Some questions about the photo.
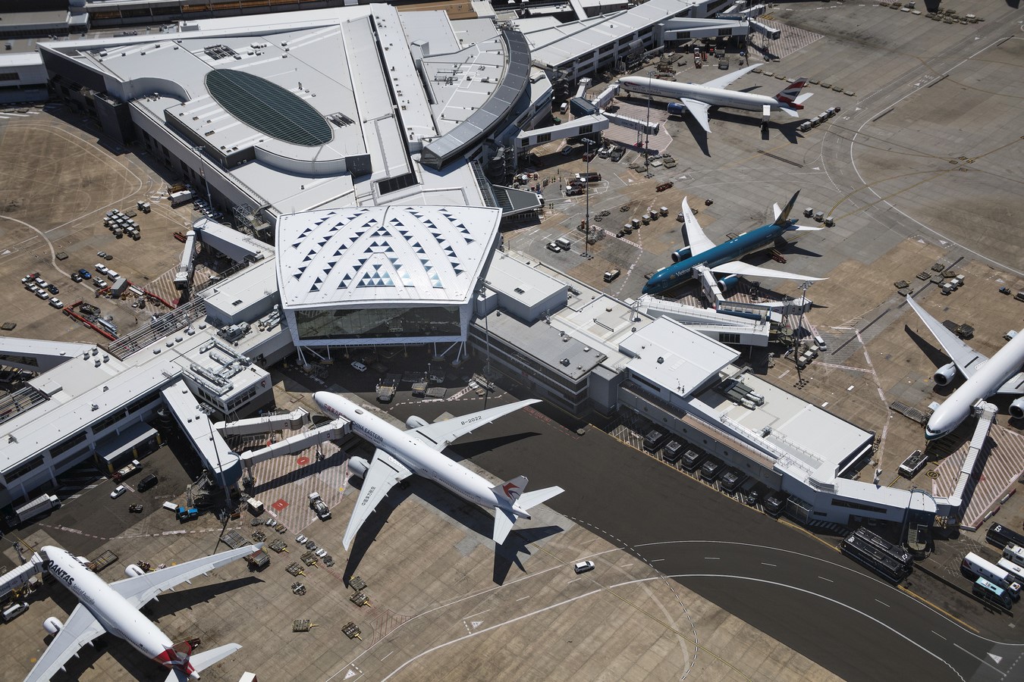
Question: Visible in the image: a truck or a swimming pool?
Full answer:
The one in the frame is a truck.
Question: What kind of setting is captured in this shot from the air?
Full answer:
The picture captures an airport.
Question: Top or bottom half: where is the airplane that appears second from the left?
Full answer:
The bottom half of the photo is where the airplane that appears second from the left is.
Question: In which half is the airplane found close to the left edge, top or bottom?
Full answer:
You can find the airplane found close to the left edge in the bottom half.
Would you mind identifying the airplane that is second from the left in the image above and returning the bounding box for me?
[312,391,564,551]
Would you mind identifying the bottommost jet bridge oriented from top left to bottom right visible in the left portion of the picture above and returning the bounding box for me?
[161,379,242,508]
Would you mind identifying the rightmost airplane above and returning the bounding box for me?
[908,283,1024,440]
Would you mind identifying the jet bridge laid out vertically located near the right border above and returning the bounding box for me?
[950,402,1003,535]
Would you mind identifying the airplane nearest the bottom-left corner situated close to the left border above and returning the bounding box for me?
[25,540,265,682]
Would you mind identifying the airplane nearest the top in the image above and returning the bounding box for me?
[616,63,813,131]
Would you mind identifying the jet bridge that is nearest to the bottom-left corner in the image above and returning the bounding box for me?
[0,550,53,605]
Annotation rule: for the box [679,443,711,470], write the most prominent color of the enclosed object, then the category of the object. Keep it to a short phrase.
black bus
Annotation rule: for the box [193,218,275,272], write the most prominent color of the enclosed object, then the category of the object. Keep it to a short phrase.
white jet bridge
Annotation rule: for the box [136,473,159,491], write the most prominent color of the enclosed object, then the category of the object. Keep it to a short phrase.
black vehicle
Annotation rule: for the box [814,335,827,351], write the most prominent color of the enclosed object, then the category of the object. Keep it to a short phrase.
white vehicle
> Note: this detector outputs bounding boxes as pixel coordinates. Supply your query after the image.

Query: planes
[616,63,813,131]
[312,391,564,551]
[908,283,1024,440]
[641,189,826,296]
[25,540,265,682]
